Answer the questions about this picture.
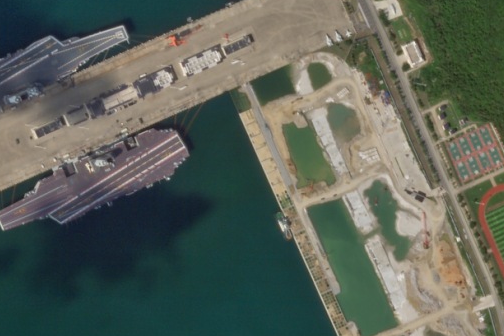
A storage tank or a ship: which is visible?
ship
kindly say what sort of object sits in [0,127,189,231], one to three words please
ship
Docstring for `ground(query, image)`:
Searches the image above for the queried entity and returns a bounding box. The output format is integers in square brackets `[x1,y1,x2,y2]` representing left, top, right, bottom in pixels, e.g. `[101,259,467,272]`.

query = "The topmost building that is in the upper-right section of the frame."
[403,41,424,66]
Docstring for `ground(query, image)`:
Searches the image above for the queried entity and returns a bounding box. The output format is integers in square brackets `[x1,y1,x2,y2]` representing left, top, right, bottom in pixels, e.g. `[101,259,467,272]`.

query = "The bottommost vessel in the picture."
[275,211,292,240]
